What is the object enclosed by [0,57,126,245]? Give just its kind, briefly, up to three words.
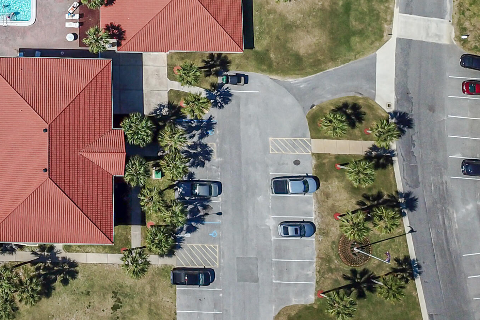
building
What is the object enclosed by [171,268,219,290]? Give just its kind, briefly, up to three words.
truck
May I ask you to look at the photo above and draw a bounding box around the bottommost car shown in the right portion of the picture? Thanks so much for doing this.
[278,222,318,241]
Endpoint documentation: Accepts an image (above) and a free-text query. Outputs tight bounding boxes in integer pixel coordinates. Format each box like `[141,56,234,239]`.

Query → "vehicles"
[219,73,248,84]
[461,159,480,177]
[179,179,224,200]
[271,176,323,197]
[460,54,480,71]
[462,80,480,96]
[278,222,318,241]
[171,268,219,290]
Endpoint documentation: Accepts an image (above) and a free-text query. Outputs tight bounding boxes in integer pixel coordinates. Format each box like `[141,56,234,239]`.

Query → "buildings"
[99,0,244,52]
[0,57,126,245]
